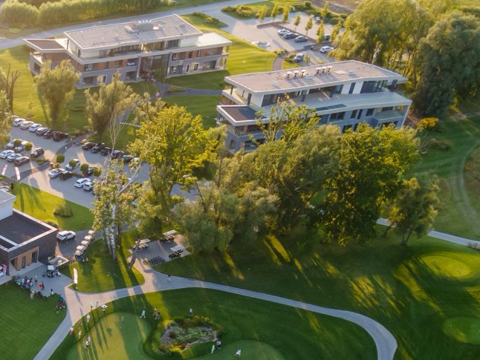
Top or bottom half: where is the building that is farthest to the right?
top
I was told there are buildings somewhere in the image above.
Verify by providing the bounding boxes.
[22,15,230,85]
[216,61,411,146]
[0,191,57,277]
